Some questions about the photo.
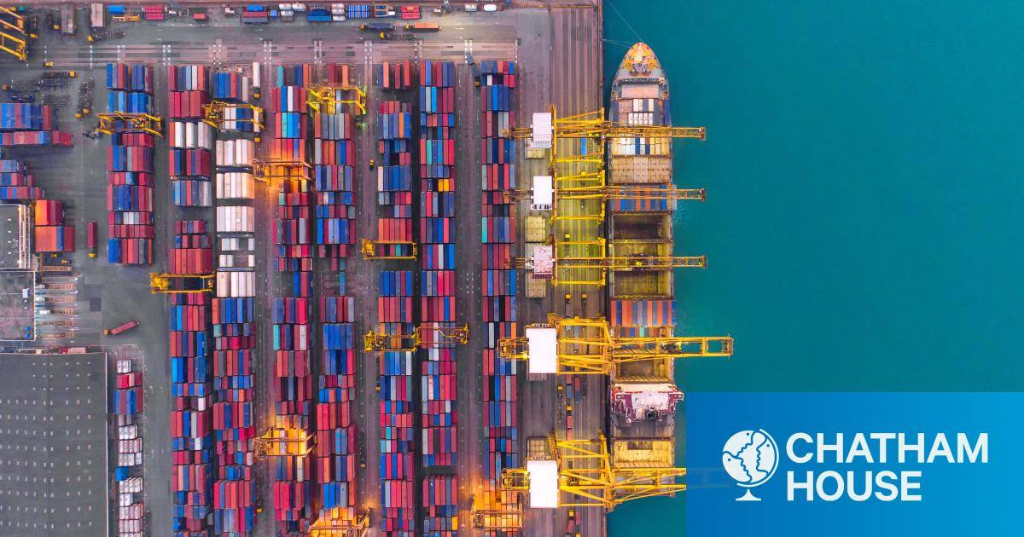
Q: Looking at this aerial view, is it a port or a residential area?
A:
port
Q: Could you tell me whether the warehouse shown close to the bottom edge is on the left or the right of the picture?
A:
left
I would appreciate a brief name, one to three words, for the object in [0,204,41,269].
building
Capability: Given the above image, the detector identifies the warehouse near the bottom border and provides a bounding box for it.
[0,351,120,537]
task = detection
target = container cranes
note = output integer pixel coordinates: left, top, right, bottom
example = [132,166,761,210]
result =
[155,271,220,294]
[254,428,319,459]
[495,313,736,380]
[251,158,316,184]
[497,106,706,167]
[310,513,369,537]
[0,4,26,37]
[200,101,267,130]
[93,111,162,139]
[468,498,526,531]
[362,329,423,354]
[413,321,469,346]
[497,434,737,514]
[362,239,422,263]
[498,235,707,289]
[304,84,366,113]
[497,169,707,226]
